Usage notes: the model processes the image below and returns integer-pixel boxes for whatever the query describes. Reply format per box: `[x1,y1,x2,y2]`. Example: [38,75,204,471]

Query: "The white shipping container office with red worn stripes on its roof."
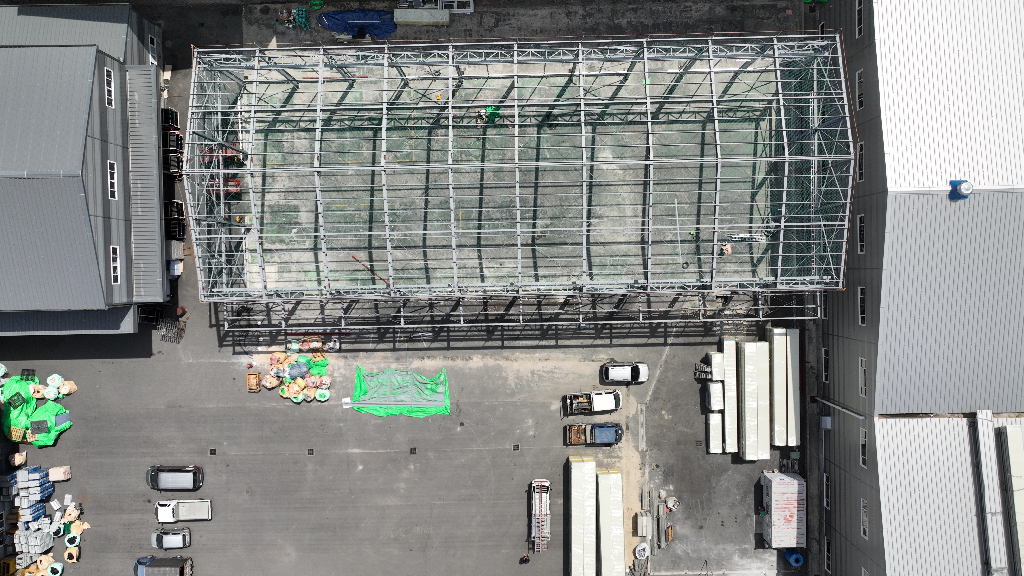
[763,471,807,549]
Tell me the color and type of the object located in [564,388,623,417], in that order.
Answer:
white truck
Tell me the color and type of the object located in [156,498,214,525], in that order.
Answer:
white truck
